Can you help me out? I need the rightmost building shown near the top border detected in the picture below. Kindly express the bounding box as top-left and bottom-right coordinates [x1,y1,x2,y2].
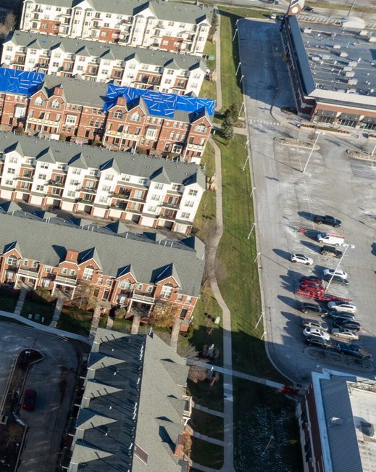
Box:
[281,0,376,130]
